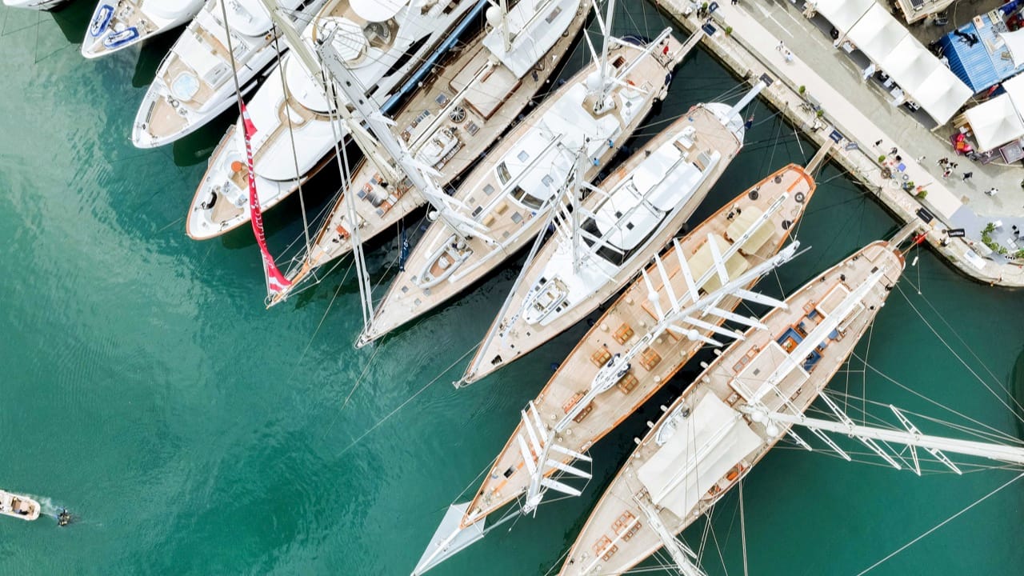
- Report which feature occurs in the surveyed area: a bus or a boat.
boat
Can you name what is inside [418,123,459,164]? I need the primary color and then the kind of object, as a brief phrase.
white boat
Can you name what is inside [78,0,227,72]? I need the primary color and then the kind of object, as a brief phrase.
white boat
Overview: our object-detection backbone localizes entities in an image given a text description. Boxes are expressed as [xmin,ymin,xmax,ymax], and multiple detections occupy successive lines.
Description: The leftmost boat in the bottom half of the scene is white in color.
[0,488,43,523]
